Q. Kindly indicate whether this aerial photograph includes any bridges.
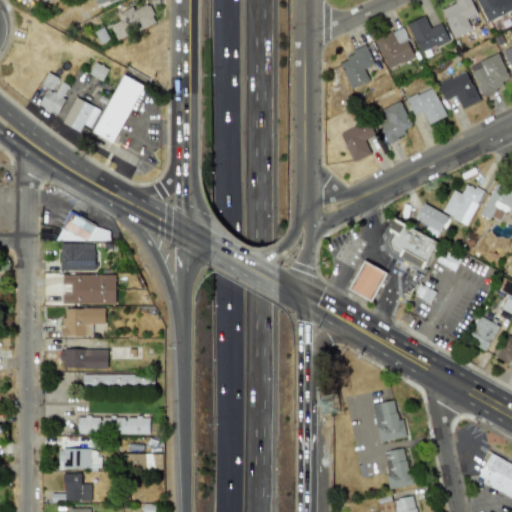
Yes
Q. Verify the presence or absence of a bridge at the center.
Yes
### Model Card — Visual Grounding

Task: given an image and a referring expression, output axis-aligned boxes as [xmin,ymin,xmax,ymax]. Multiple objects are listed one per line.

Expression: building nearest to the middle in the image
[350,260,386,301]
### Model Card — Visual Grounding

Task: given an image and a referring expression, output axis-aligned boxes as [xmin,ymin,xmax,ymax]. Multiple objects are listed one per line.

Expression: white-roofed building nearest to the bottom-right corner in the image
[480,454,512,500]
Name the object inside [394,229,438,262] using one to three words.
building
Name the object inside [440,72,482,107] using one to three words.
house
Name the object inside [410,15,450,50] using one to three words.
house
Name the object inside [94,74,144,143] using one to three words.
building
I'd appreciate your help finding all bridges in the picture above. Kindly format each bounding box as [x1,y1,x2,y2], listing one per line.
[208,208,282,306]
